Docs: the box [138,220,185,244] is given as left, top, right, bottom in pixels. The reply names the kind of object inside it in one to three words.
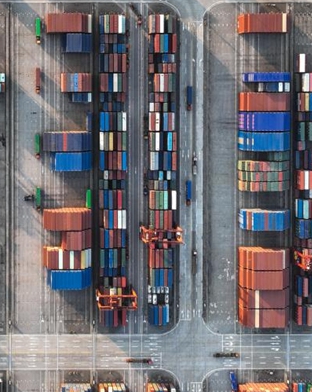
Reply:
container crane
